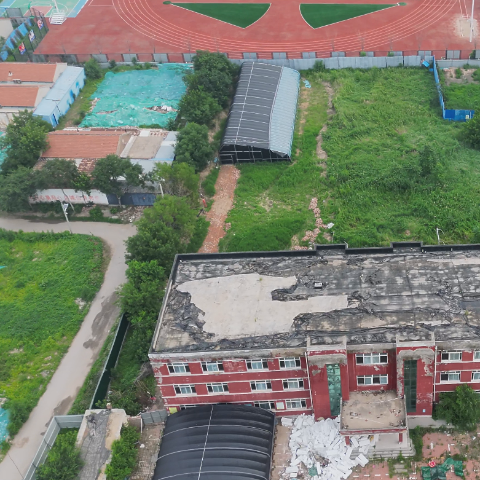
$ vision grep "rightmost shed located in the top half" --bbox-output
[218,55,303,162]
